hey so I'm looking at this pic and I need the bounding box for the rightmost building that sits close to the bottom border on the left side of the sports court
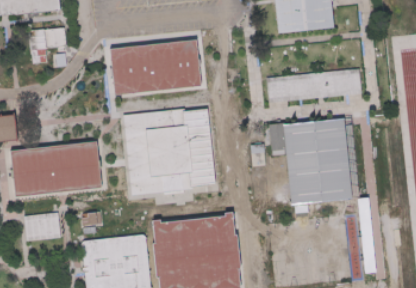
[153,212,240,288]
